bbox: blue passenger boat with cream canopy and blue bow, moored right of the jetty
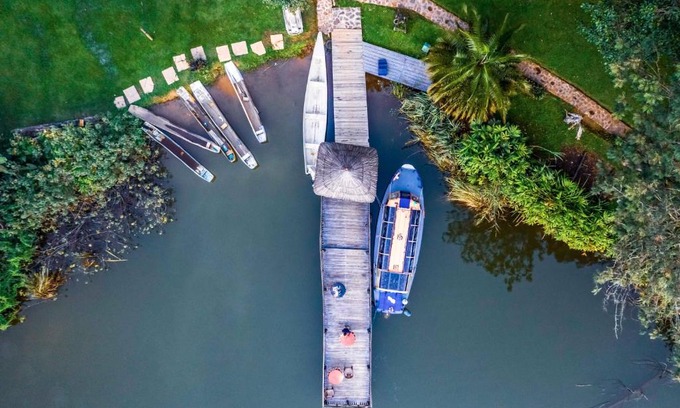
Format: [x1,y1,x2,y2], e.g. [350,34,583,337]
[374,163,424,318]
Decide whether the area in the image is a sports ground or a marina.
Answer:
marina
